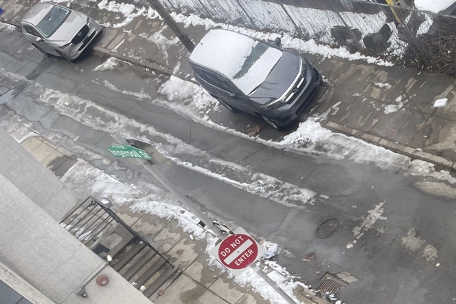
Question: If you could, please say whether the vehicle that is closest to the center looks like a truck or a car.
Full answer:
I'd identify the vehicle that is closest to the center as a car.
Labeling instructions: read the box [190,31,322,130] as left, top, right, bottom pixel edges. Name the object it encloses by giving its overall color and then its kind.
gray car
